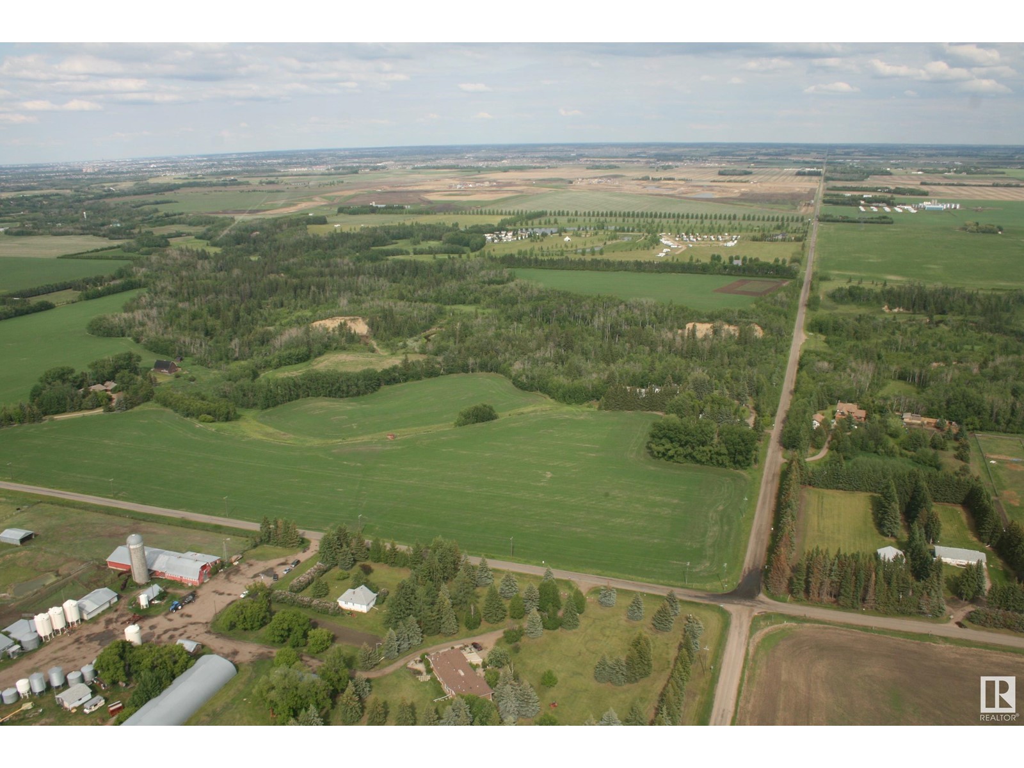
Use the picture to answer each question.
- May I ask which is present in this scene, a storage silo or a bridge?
storage silo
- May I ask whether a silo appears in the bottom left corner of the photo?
Yes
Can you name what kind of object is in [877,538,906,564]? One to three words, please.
building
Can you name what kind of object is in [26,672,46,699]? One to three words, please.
silo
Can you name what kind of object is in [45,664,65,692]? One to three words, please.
silo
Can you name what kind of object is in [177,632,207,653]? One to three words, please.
shed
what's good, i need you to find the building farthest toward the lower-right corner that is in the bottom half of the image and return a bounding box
[932,549,989,568]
